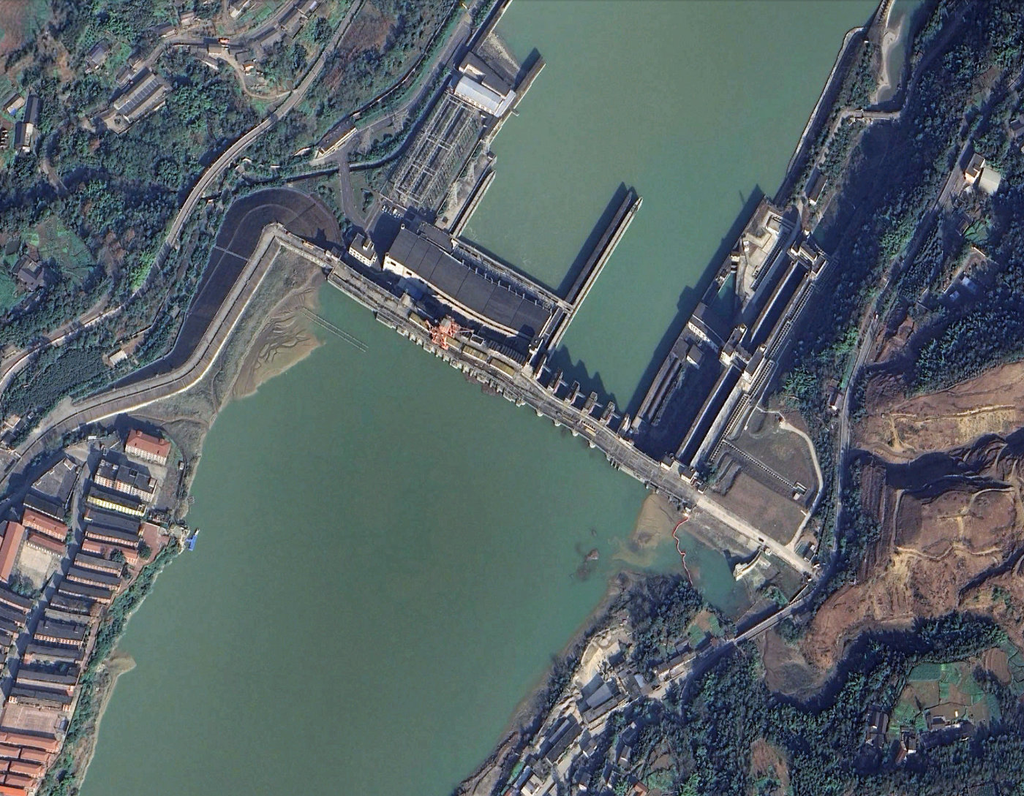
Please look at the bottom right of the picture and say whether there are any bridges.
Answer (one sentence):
Yes, a bridge appears at the bottom right of the picture.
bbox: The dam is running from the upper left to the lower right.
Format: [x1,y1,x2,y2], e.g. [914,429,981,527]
[326,250,720,517]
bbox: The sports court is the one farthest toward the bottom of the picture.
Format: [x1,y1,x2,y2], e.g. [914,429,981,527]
[1,704,58,733]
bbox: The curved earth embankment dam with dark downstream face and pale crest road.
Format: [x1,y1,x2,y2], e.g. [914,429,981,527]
[0,188,344,497]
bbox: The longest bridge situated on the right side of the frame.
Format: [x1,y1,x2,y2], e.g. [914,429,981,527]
[727,591,813,647]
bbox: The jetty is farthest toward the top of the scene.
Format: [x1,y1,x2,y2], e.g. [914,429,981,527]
[510,56,546,117]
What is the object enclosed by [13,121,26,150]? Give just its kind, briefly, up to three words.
barn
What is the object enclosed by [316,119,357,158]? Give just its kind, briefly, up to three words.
building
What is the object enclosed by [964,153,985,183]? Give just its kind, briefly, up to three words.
house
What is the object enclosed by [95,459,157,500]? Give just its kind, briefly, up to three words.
building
